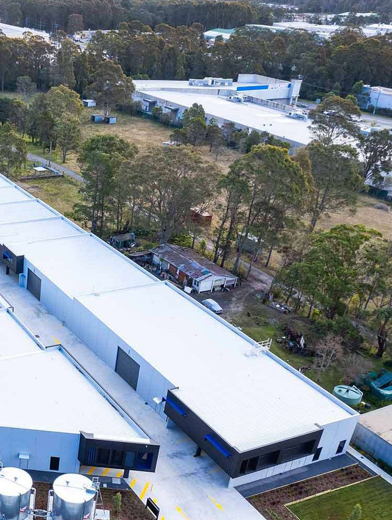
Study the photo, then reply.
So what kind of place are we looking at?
industrial area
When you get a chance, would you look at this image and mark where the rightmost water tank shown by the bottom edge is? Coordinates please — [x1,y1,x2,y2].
[49,473,112,520]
